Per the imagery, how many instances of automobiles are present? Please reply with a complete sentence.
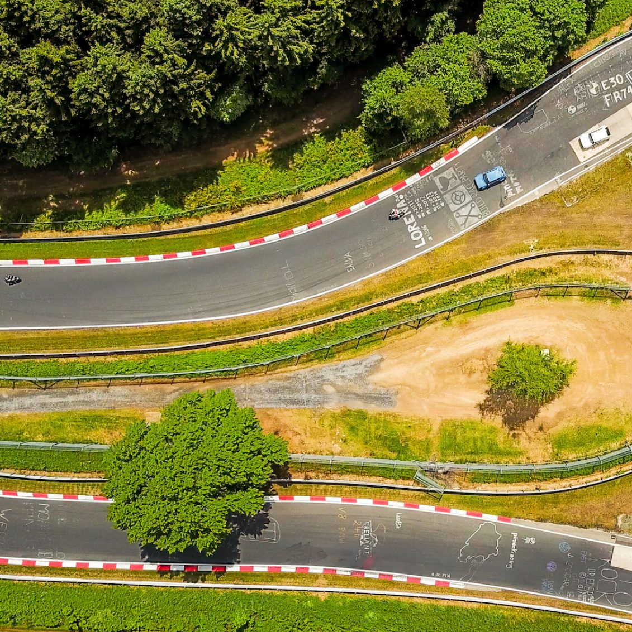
The number of automobiles here is 2.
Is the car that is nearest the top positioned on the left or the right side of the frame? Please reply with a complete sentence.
You can find the car that is nearest the top on the right side of the picture.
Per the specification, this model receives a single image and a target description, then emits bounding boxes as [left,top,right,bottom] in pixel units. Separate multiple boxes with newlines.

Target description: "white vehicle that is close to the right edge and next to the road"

[577,126,612,150]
